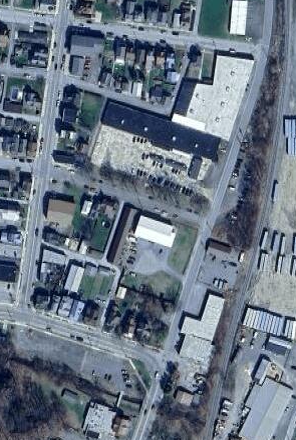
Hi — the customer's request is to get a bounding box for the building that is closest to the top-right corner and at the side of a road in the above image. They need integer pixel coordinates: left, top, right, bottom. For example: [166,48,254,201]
[229,0,247,35]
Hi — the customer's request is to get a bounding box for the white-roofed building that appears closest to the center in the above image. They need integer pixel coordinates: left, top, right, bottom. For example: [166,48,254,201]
[135,214,177,248]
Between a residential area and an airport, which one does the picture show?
residential area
